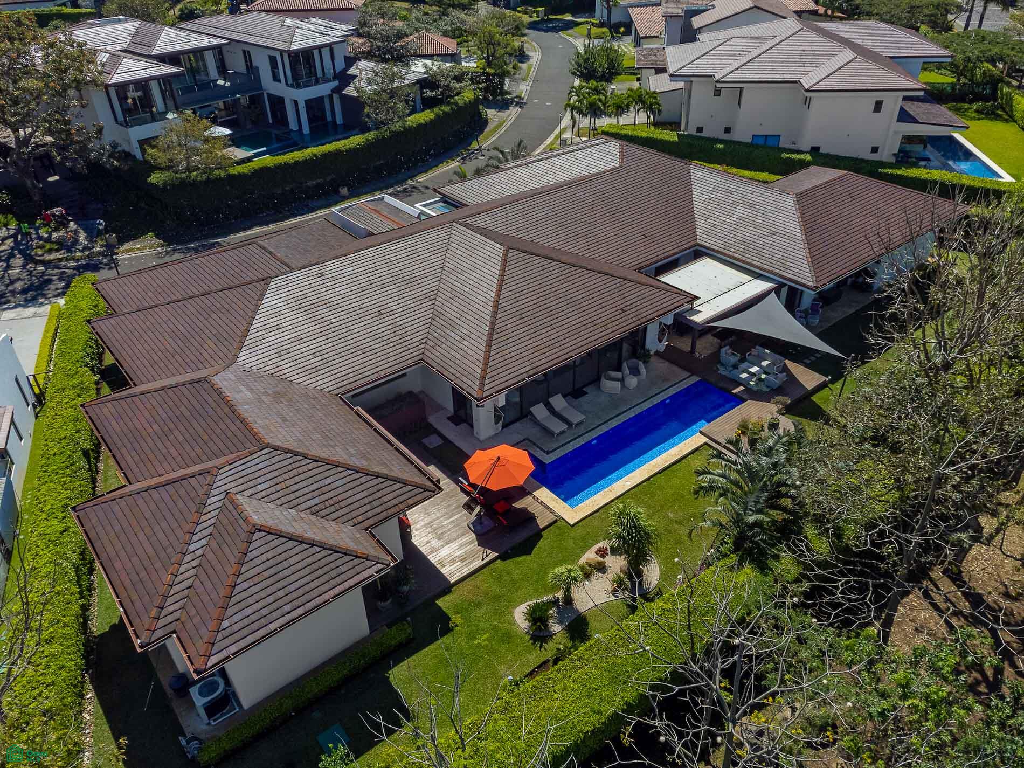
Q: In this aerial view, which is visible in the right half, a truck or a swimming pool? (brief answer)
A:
swimming pool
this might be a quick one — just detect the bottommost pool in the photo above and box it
[517,379,744,527]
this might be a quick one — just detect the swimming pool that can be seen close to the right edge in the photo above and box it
[903,132,1016,179]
